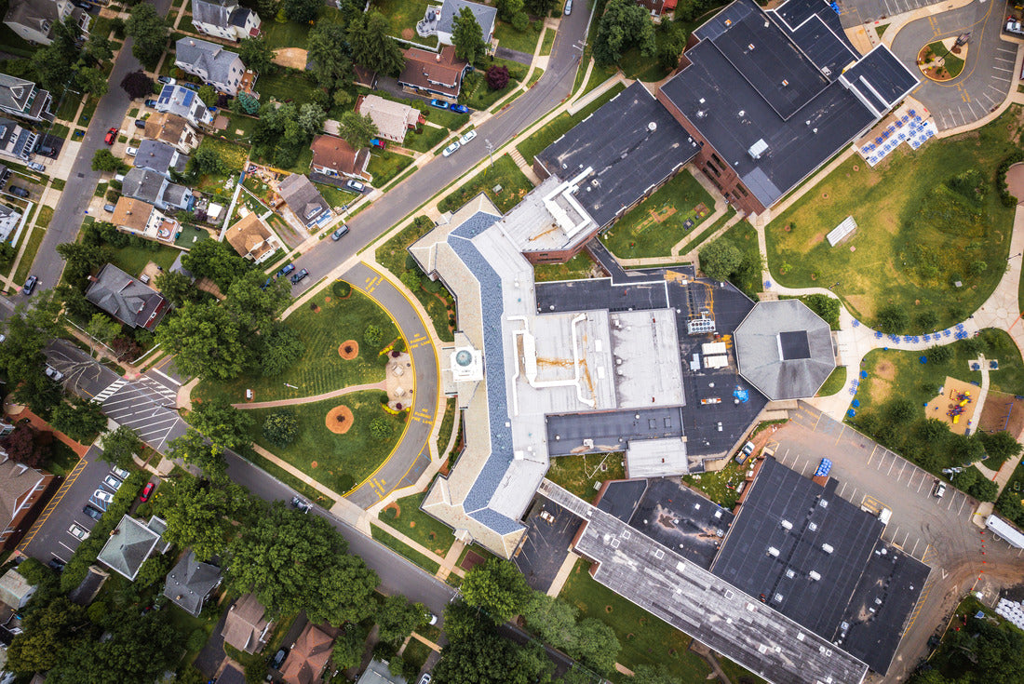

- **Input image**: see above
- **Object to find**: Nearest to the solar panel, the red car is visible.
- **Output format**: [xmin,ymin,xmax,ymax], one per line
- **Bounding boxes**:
[103,127,119,146]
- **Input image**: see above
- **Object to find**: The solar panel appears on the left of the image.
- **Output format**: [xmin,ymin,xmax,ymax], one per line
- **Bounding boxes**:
[159,85,195,107]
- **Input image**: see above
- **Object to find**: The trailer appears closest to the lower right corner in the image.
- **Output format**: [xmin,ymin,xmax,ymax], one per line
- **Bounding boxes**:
[974,511,1024,552]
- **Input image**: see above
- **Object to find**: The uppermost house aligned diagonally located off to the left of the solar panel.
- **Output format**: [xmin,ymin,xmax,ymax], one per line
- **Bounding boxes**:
[0,69,60,125]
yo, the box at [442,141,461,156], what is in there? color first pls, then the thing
white car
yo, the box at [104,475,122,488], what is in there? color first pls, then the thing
white vehicle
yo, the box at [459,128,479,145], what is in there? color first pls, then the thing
white car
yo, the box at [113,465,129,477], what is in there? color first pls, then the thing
white vehicle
